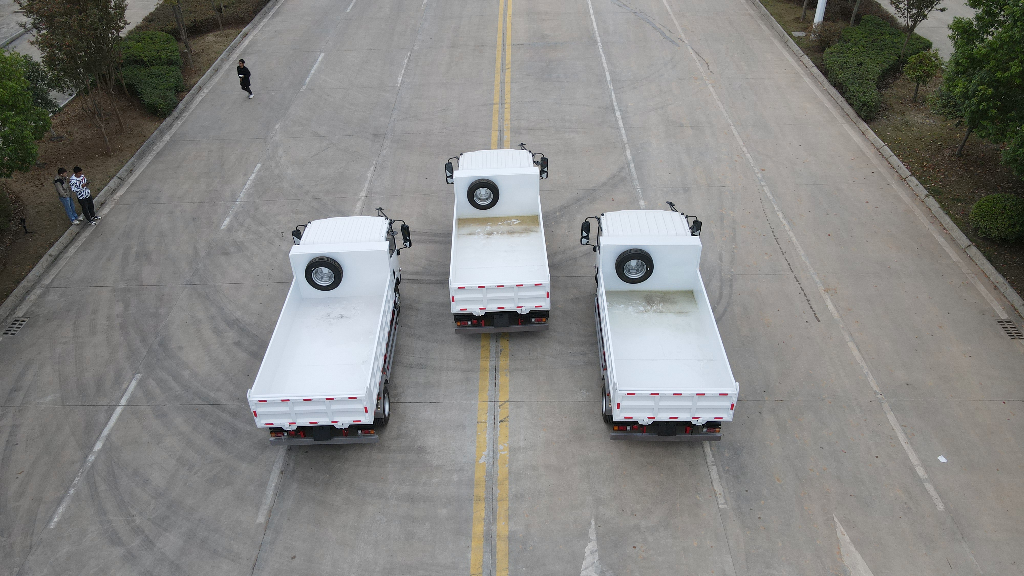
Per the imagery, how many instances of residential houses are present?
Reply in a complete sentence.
The picture shows no residential houses.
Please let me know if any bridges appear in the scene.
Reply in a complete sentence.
No, no bridge is visible in the view.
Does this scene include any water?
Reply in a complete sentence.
No, the scene doesn't show any water.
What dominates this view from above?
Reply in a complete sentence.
The largest share of the image is taken up by paved ground.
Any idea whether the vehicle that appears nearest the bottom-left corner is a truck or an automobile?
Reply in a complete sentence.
It turns out the vehicle that appears nearest the bottom-left corner is a truck.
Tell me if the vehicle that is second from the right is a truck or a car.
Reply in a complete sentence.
It turns out the vehicle that is second from the right is a truck.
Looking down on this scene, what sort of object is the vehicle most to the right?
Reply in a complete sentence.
The vehicle most to the right in the image is a truck.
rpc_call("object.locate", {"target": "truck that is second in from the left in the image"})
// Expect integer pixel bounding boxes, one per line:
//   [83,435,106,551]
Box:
[444,139,552,333]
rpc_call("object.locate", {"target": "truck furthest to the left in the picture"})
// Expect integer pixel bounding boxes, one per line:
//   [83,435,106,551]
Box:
[248,202,411,447]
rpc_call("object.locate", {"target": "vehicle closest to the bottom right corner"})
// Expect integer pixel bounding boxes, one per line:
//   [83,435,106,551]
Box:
[582,199,739,440]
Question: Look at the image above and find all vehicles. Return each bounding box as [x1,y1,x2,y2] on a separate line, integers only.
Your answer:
[444,139,552,333]
[582,199,739,440]
[248,202,411,447]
